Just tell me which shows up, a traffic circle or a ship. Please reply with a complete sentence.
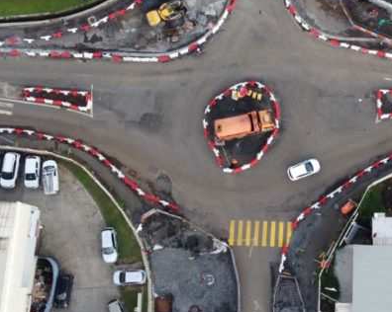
It is a traffic circle that can be seen here.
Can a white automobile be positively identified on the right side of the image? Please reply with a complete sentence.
Yes, the scene does show a white automobile on the right side of the image.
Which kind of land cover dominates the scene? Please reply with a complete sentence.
The scene is dominated by paved ground.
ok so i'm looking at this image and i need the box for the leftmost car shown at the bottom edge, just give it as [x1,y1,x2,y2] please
[54,272,77,311]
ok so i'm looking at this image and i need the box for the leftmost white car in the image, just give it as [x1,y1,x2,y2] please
[0,152,21,188]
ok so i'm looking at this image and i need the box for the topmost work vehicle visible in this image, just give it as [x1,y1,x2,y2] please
[145,0,197,26]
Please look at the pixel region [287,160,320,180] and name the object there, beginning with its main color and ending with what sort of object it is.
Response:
white car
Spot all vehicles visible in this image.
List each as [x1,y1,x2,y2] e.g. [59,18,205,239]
[23,157,41,188]
[100,227,119,266]
[0,152,21,188]
[112,269,146,286]
[106,300,125,312]
[145,0,197,26]
[211,106,274,145]
[287,160,320,180]
[54,272,77,311]
[40,158,60,198]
